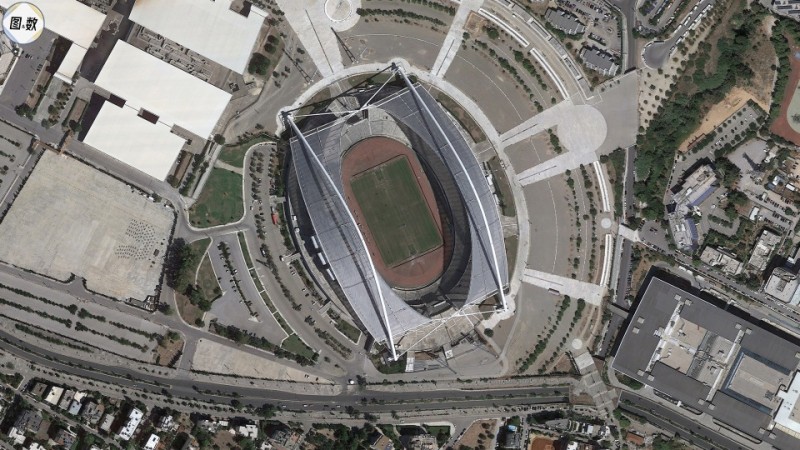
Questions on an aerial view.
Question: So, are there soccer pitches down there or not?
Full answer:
Yes, this view includes a soccer pitch.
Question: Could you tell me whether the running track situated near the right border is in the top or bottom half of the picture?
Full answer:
It is in the top half that the running track situated near the right border appears.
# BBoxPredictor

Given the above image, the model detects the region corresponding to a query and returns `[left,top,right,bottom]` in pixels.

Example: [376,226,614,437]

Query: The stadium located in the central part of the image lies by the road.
[284,63,511,366]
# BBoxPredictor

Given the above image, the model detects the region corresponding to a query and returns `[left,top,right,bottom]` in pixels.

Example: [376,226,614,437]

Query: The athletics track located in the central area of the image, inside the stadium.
[341,136,454,290]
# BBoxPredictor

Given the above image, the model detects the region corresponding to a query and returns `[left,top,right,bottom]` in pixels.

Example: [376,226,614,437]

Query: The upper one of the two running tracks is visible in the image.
[769,39,800,148]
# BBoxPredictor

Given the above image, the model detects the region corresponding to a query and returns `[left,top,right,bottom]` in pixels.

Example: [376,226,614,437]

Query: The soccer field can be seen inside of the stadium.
[350,154,443,267]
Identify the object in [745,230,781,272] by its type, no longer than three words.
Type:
house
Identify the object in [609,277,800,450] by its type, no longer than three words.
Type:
building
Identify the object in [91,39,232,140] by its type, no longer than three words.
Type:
building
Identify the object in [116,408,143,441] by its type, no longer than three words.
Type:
house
